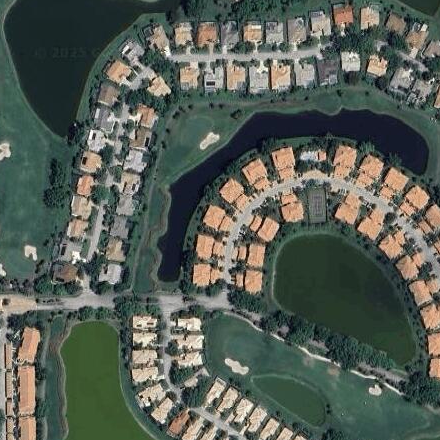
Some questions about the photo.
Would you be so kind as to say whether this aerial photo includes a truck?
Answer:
No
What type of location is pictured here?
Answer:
residential area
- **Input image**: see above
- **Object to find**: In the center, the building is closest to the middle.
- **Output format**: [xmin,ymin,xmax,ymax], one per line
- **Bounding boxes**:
[200,203,234,234]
